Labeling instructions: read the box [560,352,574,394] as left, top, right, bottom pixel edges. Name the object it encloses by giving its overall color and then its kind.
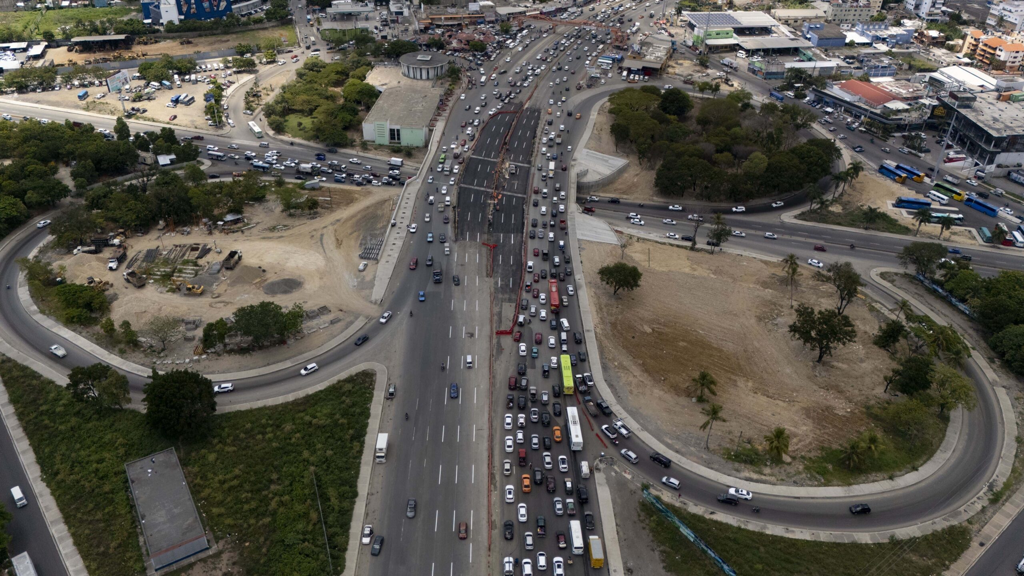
green vehicle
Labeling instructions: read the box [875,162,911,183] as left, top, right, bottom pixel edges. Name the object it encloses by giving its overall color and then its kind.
blue bus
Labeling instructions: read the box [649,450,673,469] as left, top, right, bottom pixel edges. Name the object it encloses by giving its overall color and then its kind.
black car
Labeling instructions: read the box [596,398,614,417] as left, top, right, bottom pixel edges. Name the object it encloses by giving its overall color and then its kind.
black vehicle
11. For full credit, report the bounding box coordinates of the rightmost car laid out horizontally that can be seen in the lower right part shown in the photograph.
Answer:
[846,503,874,516]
